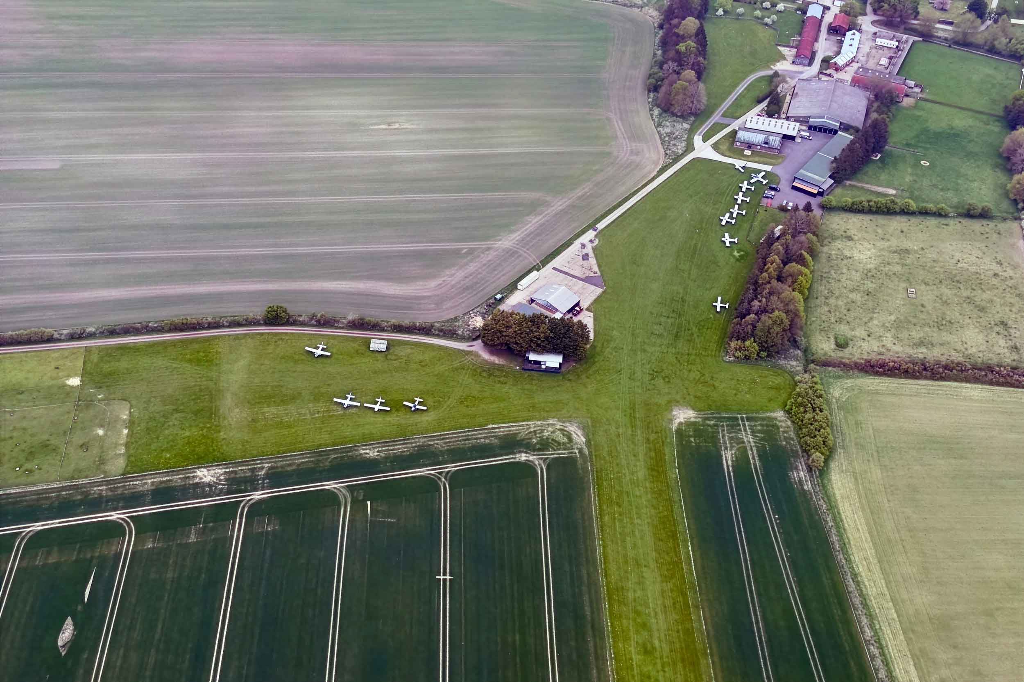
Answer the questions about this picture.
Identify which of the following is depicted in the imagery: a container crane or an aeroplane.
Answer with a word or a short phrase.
aeroplane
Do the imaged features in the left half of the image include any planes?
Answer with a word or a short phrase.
Yes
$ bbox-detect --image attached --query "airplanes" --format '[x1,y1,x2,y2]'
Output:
[741,181,753,191]
[735,192,748,204]
[713,297,728,312]
[305,342,332,357]
[364,397,390,413]
[730,205,744,217]
[721,213,734,224]
[333,392,361,409]
[734,163,746,172]
[722,233,736,246]
[403,396,427,410]
[751,172,767,182]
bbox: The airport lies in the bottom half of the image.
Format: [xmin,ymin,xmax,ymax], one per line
[2,159,791,682]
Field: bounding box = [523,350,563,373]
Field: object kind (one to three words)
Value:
building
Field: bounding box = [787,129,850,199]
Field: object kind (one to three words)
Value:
hangar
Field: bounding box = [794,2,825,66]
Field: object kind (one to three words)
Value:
barn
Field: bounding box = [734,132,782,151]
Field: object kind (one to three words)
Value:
shed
